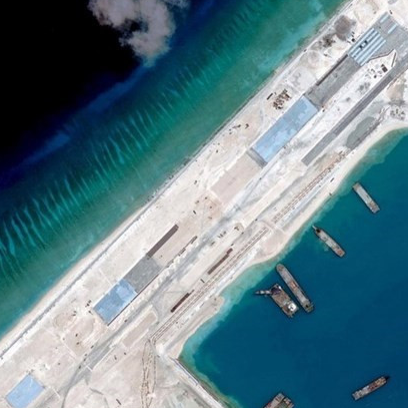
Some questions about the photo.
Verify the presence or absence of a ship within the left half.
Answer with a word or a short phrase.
No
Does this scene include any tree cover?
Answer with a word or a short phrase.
No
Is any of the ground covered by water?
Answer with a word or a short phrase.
Yes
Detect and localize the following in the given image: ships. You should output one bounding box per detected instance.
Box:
[255,286,298,315]
[266,392,286,408]
[313,225,345,257]
[353,376,387,398]
[277,264,315,313]
[354,183,379,213]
